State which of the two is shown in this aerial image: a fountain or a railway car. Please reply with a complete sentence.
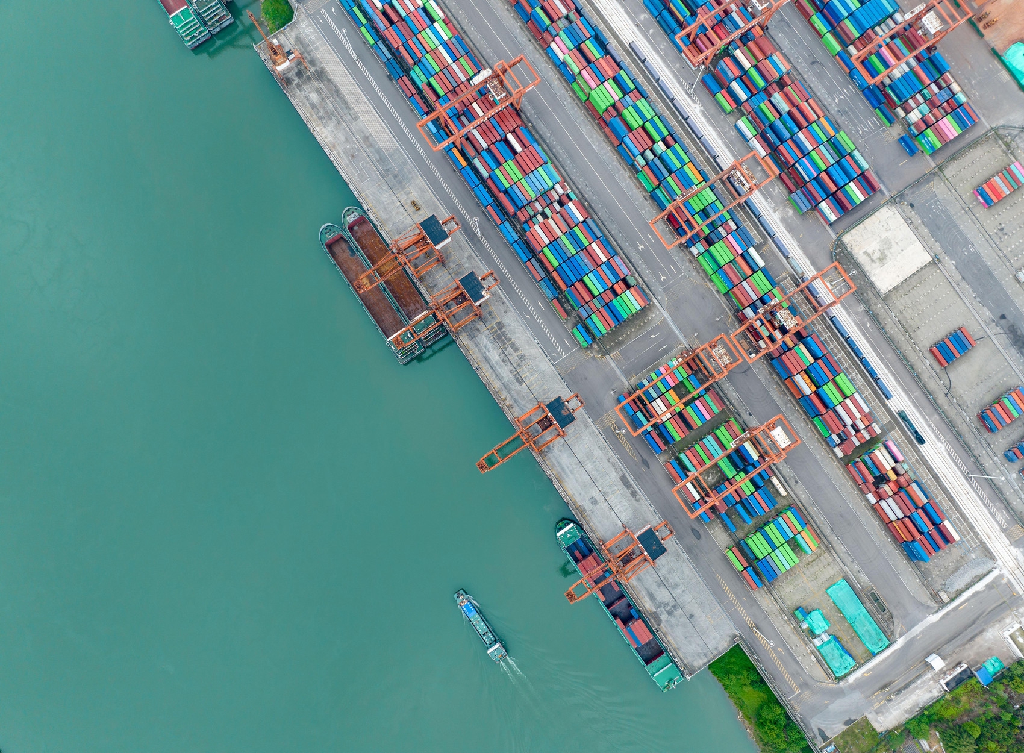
Of the two, only a railway car appears.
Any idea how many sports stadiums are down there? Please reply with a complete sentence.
The count of sports stadiums is 0.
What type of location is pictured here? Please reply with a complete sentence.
It's a port.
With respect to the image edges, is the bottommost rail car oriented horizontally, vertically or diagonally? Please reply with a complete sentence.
The bottommost rail car runs diagonally in the image.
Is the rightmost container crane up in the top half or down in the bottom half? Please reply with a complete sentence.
The rightmost container crane sits in the top half of the picture.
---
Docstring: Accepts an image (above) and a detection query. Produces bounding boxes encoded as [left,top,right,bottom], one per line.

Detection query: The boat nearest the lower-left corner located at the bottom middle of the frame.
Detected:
[453,587,509,663]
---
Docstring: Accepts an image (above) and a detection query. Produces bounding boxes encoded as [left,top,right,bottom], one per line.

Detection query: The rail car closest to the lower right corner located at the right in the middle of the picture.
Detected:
[895,408,926,445]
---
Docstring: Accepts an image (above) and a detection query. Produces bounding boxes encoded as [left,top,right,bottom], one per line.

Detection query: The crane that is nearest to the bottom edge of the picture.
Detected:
[565,521,674,603]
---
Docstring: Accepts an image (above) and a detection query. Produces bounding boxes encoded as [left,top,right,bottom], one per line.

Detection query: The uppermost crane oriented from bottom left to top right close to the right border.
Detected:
[850,0,978,88]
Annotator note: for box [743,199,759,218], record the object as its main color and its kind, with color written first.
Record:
blue rail car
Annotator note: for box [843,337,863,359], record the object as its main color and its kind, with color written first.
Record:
blue rail car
